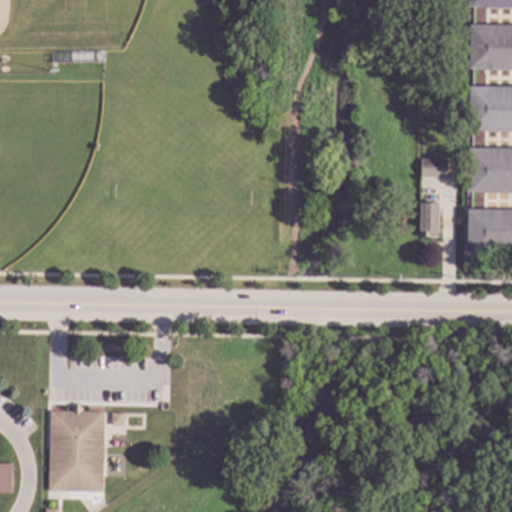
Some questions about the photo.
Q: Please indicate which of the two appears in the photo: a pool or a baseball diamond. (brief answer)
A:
baseball diamond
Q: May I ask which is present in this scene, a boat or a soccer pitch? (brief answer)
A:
soccer pitch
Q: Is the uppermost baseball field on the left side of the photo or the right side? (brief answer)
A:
left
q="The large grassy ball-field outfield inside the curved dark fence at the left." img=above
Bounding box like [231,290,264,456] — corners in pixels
[0,80,105,271]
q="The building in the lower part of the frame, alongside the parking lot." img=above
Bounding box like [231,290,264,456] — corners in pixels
[49,404,104,491]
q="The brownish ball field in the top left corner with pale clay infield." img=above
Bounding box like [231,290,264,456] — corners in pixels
[0,0,148,52]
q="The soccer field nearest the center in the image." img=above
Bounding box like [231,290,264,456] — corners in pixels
[117,158,251,236]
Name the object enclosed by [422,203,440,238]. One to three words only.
shed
